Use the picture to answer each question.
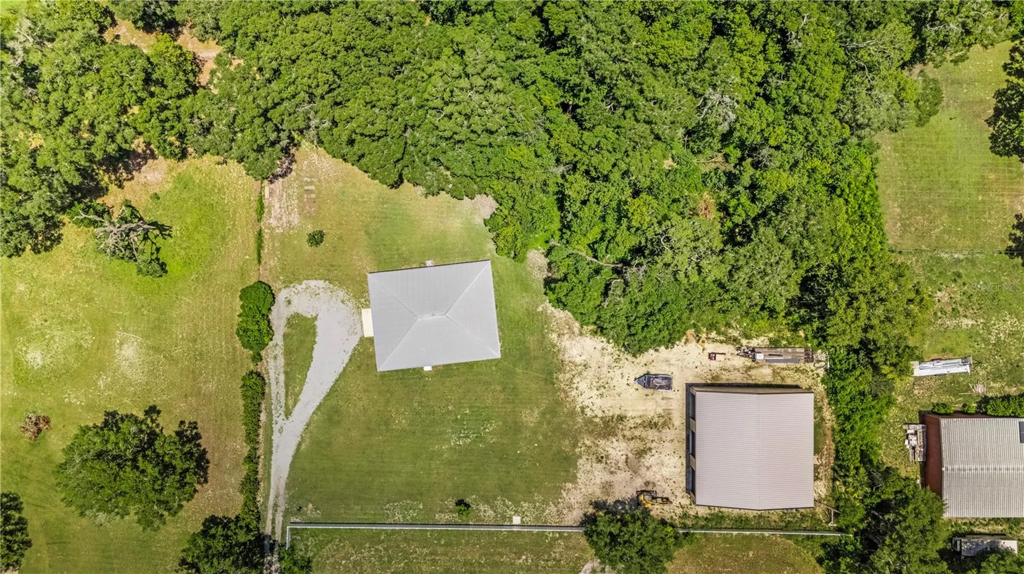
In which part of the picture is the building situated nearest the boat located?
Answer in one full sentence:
The building situated nearest the boat sits in the bottom right section of the image.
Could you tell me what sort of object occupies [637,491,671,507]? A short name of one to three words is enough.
work vehicle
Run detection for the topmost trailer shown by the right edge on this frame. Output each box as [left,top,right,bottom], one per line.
[914,357,984,376]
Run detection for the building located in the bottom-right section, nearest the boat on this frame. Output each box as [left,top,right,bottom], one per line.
[685,387,814,510]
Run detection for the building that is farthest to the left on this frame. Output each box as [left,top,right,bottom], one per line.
[368,260,501,372]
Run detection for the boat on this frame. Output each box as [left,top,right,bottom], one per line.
[635,375,672,391]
